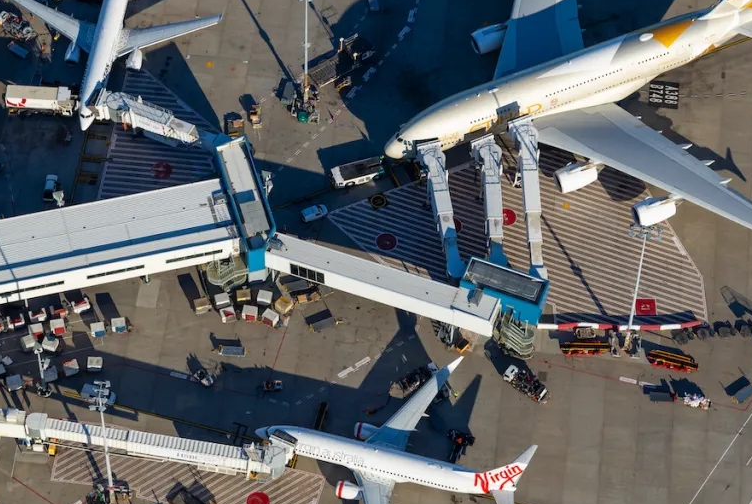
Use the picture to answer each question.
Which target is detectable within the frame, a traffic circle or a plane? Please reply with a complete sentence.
Looking from above, you can make out a plane.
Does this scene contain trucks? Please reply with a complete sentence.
Yes, looking at the shot, I can spot a truck.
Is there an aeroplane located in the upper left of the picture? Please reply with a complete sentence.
Yes, there is an aeroplane in the upper left of the picture.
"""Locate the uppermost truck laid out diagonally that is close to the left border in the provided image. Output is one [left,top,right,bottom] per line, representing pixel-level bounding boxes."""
[0,11,40,44]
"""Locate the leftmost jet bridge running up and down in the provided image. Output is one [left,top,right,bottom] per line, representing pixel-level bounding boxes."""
[410,138,463,282]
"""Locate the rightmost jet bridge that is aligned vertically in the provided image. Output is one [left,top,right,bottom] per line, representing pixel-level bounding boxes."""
[502,114,549,279]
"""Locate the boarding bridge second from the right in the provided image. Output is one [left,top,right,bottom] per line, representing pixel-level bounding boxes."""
[465,132,507,266]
